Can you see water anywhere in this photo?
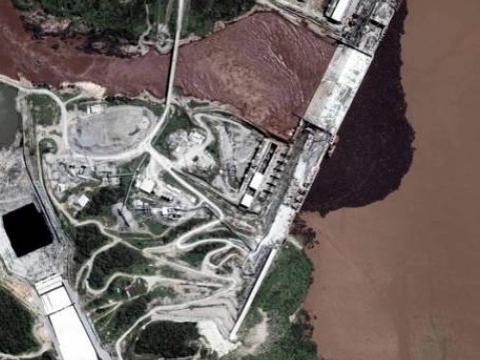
Yes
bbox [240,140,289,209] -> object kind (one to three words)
building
